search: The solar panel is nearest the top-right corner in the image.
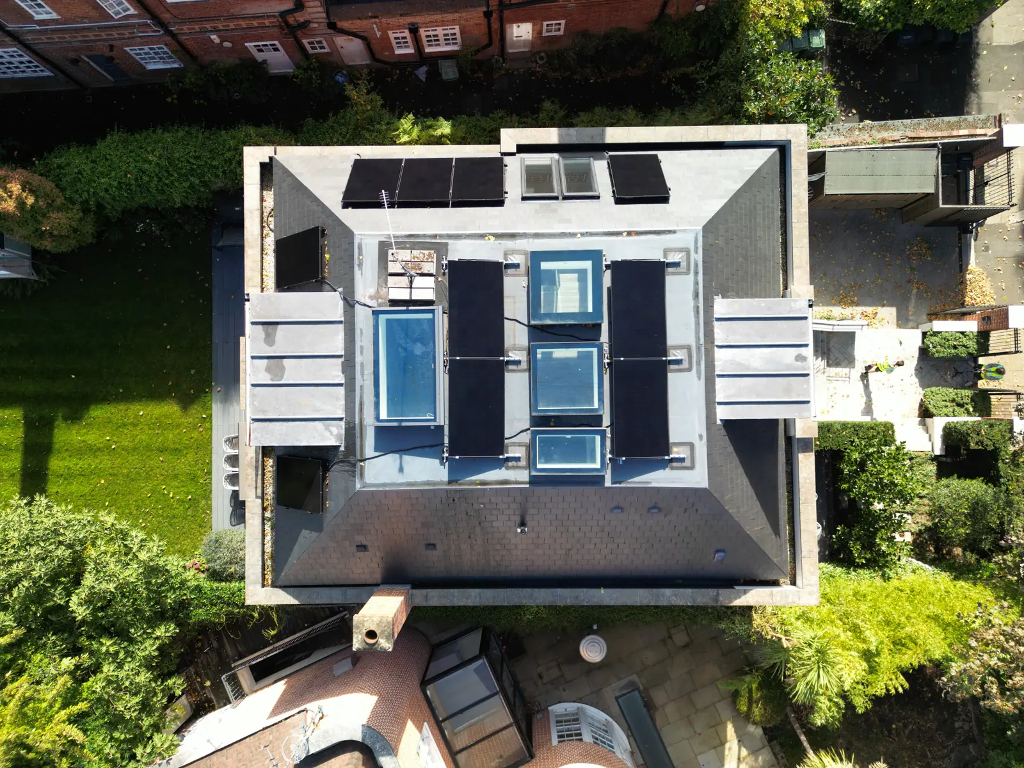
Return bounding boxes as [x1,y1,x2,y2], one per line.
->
[608,154,669,199]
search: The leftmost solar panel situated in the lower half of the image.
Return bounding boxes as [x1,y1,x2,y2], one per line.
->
[276,456,327,513]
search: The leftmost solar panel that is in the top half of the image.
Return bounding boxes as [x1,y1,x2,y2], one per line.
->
[275,227,327,287]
